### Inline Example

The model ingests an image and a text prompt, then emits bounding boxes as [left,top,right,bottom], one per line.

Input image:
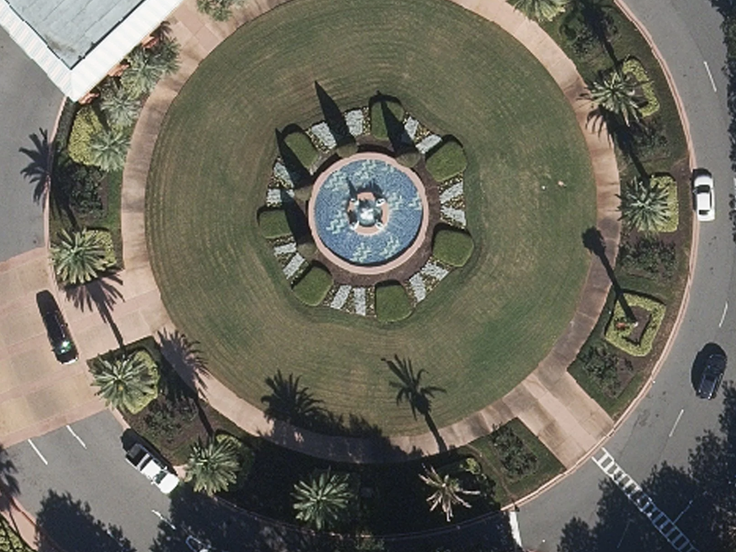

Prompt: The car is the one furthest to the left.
[40,311,78,365]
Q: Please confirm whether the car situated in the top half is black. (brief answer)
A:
No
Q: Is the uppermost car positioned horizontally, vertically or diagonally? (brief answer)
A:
vertically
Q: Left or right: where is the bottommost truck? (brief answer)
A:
left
